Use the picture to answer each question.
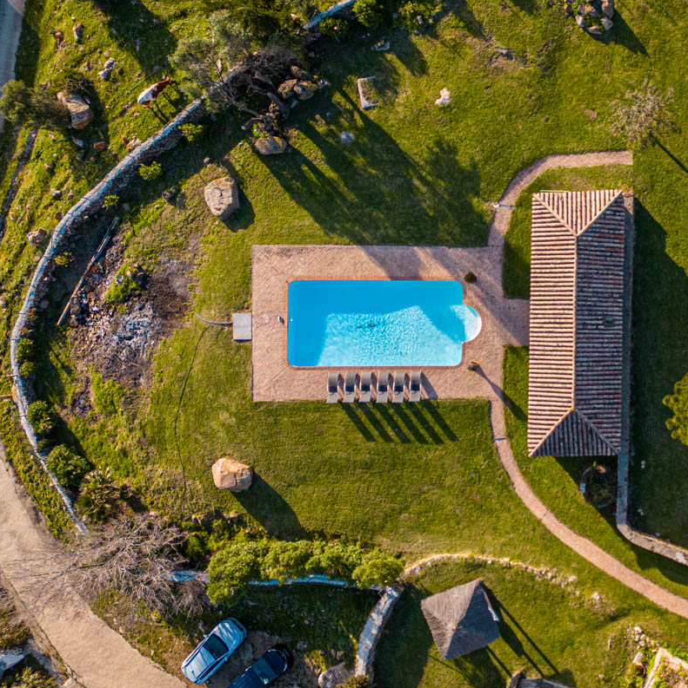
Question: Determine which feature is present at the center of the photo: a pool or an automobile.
pool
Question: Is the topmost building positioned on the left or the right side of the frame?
right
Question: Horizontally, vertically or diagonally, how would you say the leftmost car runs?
diagonally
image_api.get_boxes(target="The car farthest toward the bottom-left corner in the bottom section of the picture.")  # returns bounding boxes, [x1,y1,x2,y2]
[178,613,251,687]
